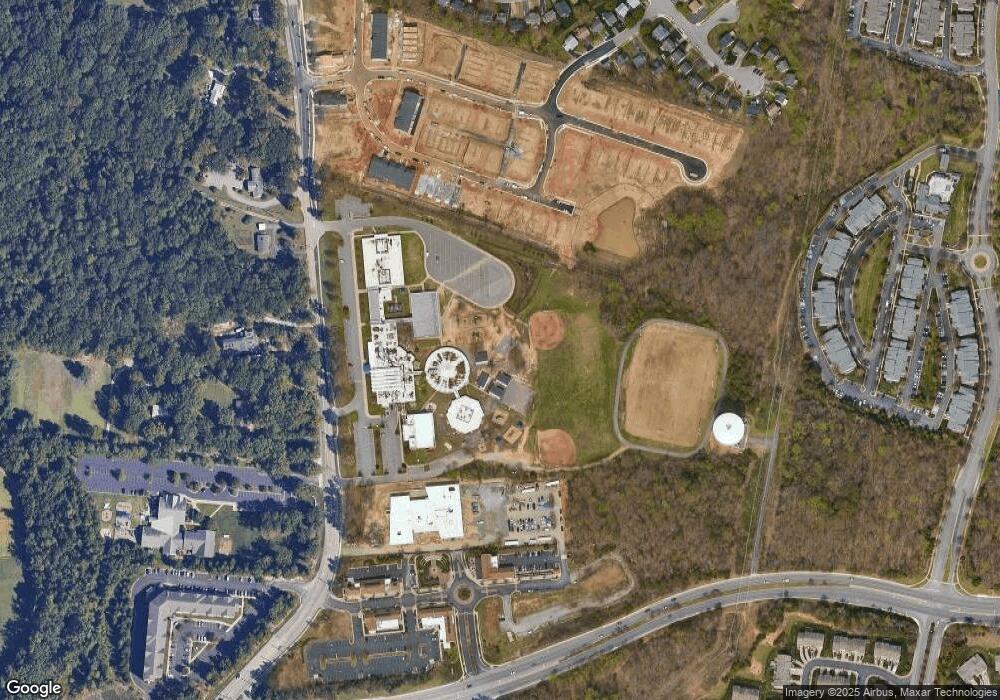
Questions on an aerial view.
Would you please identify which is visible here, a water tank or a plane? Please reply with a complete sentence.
Visible in the photo is a water tank.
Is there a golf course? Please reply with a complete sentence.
No, I can't see a single golf course in this photo.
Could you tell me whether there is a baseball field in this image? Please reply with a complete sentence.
Yes, there's a baseball field down there.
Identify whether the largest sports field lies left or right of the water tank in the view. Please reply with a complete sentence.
From the viewer's perspective, the largest sports field falls to the left of the water tank.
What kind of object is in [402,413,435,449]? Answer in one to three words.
building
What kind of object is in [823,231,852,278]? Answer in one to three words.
building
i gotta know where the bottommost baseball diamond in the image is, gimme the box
[535,429,575,468]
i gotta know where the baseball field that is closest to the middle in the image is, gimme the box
[530,311,564,350]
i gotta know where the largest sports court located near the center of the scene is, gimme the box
[501,377,534,415]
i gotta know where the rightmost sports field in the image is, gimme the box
[625,325,721,446]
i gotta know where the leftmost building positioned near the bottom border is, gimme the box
[144,590,241,683]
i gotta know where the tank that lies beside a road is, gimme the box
[713,414,746,446]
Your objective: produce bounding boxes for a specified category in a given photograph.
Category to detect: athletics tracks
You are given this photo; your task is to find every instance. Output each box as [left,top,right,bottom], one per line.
[613,318,729,456]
